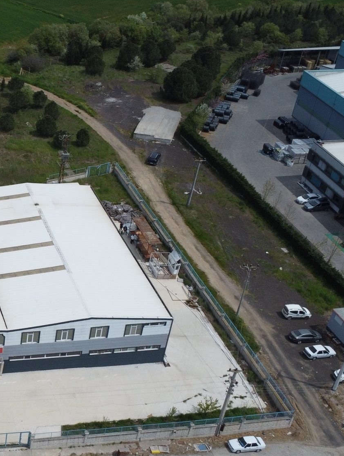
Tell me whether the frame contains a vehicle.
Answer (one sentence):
Yes, there's a vehicle down there.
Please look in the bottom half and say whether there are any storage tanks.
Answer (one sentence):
No, there is no storage tank in the bottom half.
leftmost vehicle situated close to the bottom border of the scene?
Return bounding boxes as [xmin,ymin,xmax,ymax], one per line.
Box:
[227,436,267,455]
